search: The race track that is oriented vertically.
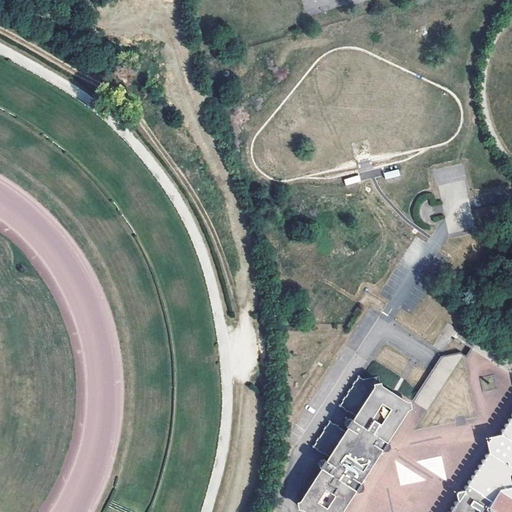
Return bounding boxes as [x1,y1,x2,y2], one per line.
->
[0,173,124,512]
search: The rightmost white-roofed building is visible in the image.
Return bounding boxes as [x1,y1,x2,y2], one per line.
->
[448,410,512,512]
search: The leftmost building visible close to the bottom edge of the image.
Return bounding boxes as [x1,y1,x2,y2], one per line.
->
[298,376,412,512]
